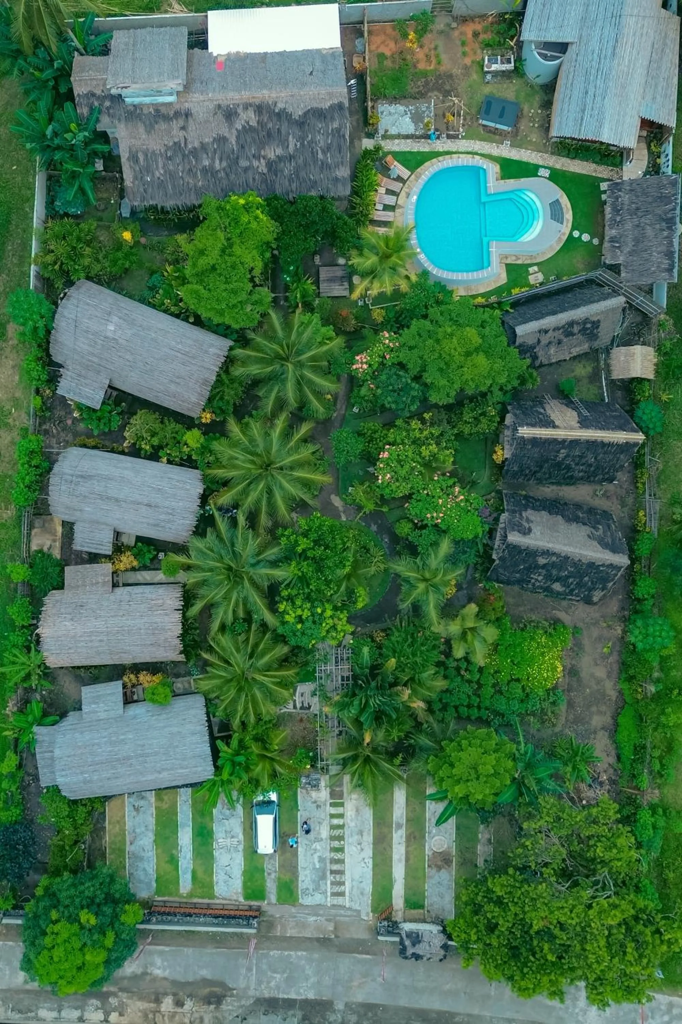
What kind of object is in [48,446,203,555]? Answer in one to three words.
house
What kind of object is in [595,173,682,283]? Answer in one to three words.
building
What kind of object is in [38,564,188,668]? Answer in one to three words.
house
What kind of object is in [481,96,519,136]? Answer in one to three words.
building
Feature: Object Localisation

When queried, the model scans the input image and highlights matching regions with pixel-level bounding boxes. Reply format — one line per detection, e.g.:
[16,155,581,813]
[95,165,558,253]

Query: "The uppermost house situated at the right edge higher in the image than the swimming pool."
[521,0,682,170]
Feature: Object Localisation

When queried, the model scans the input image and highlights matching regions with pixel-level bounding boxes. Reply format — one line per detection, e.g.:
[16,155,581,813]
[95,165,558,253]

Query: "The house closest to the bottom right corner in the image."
[482,489,632,610]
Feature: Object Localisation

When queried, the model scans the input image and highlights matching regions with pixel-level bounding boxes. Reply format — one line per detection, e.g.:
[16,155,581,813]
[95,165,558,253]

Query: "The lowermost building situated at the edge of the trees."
[34,681,216,800]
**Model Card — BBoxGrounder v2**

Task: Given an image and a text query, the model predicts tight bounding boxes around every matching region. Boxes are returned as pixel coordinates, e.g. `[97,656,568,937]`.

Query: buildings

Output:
[481,96,519,136]
[34,681,216,800]
[50,279,234,417]
[500,397,648,485]
[69,24,354,218]
[48,446,203,555]
[482,489,632,610]
[521,0,682,170]
[595,173,682,283]
[38,564,188,668]
[500,281,630,372]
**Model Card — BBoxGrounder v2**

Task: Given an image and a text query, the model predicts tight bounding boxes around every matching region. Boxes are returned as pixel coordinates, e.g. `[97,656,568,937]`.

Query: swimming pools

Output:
[395,154,572,295]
